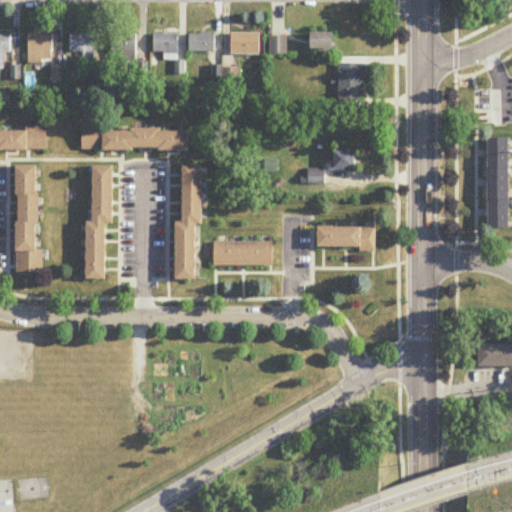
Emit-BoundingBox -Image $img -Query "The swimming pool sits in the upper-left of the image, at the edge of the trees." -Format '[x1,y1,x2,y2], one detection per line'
[24,71,37,92]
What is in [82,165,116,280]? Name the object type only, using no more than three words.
building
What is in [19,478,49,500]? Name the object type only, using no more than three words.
basketball court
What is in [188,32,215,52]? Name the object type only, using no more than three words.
house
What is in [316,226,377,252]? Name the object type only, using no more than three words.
building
